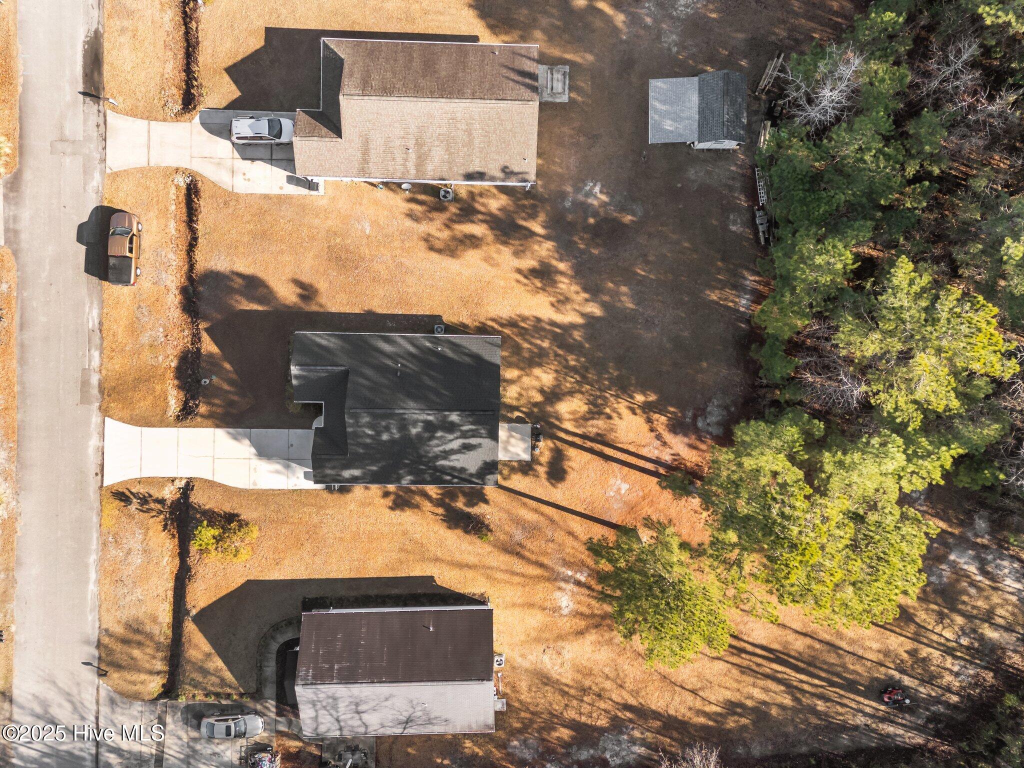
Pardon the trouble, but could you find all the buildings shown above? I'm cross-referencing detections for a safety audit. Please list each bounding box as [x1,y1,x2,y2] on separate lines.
[291,38,540,192]
[647,68,746,157]
[285,595,495,739]
[291,331,501,488]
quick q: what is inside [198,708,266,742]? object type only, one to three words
car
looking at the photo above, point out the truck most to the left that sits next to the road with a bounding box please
[109,214,145,289]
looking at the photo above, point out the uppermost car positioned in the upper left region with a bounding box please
[229,115,294,148]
